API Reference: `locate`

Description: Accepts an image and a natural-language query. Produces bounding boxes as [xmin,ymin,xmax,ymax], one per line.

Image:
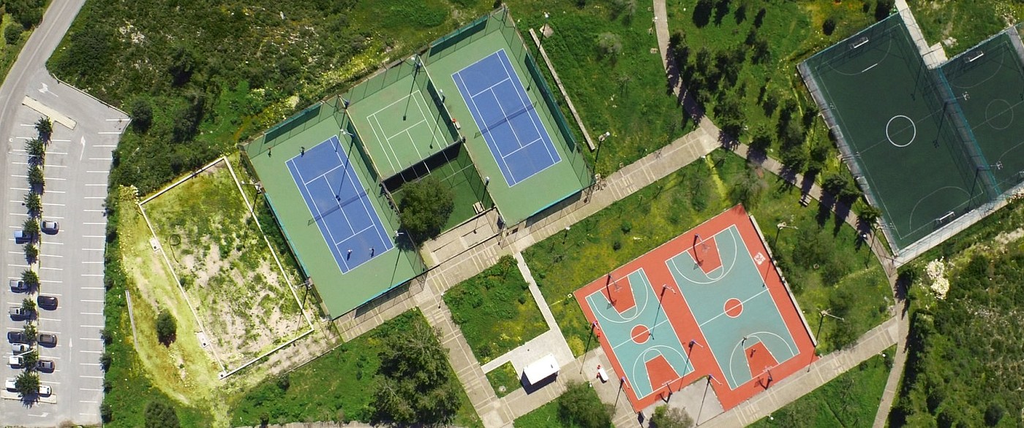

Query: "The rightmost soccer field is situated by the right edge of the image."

[930,30,1024,195]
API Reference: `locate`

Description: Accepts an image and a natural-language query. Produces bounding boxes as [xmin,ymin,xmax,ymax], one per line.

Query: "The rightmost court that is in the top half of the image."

[418,9,594,225]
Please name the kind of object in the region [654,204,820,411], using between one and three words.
basketball court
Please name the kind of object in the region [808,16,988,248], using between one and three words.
soccer field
